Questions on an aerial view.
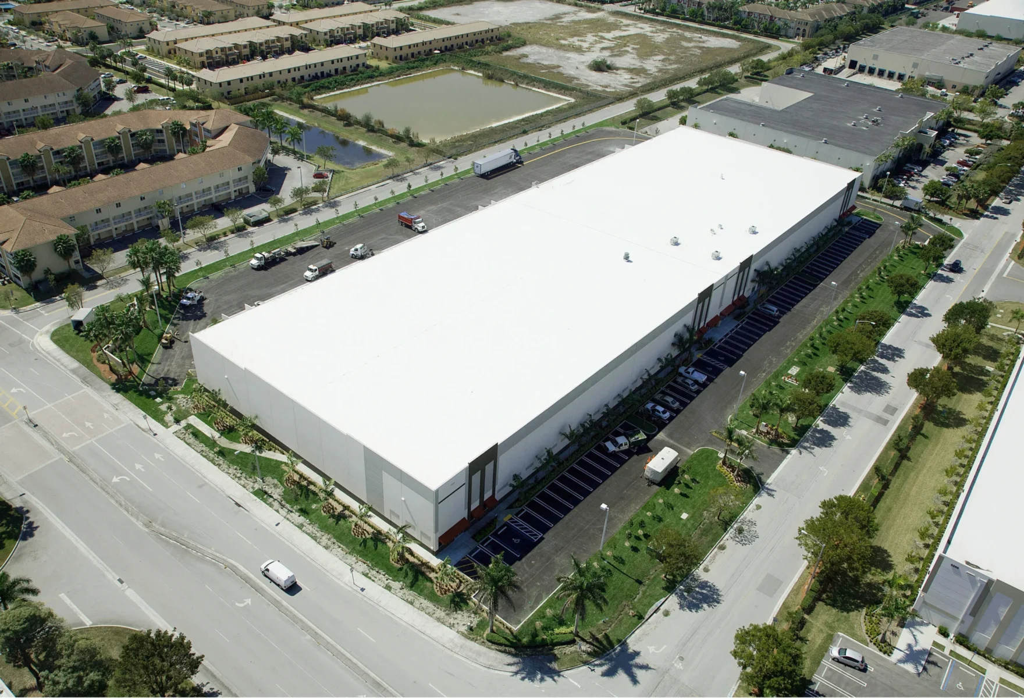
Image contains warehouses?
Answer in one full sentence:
Yes, the frame does contain a warehouse.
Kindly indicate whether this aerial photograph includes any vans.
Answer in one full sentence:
Yes, you can see a van in this photo.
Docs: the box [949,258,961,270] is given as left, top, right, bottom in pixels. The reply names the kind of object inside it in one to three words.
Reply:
vehicle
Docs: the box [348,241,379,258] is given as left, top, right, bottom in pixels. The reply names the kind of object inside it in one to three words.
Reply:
vehicle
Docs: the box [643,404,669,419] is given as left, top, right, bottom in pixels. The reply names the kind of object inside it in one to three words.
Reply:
car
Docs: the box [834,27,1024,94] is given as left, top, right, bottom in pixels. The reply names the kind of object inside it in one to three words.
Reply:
building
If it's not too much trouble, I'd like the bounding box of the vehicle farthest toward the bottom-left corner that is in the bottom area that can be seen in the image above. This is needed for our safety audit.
[263,558,302,589]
